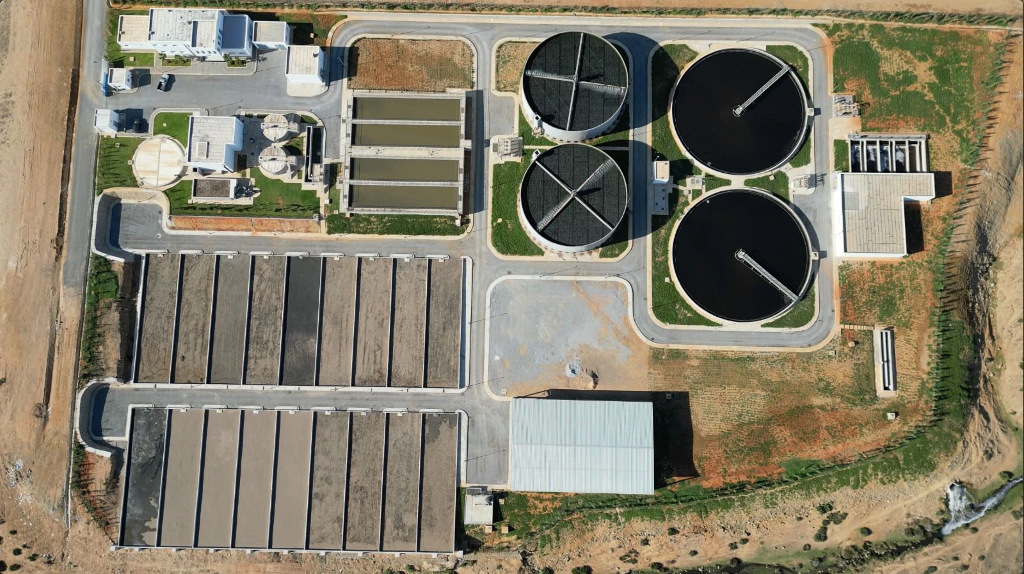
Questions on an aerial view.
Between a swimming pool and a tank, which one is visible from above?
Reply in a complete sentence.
The one in the frame is a tank.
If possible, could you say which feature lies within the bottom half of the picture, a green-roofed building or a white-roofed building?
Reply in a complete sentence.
The feature located within the bottom half of the picture is a white-roofed building.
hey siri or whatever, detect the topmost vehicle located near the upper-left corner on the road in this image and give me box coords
[155,73,168,92]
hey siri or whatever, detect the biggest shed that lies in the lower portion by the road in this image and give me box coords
[510,398,654,494]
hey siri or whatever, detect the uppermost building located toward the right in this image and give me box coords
[834,94,860,116]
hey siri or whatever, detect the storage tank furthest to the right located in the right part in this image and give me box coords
[844,134,929,173]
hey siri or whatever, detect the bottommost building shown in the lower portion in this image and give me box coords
[465,494,493,525]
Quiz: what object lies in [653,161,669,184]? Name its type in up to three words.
building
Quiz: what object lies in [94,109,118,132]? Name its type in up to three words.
building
